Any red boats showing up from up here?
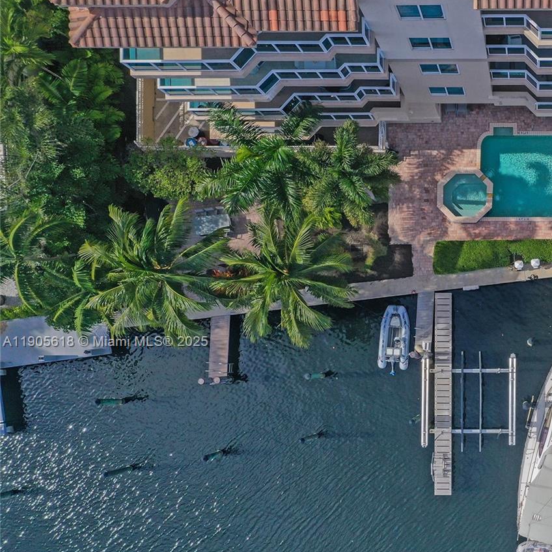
No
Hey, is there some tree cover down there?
Yes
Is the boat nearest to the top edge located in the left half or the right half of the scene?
right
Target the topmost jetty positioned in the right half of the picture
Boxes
[413,291,435,349]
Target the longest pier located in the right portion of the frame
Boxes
[434,293,452,495]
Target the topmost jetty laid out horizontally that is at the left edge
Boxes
[0,328,121,368]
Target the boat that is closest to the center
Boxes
[378,304,410,374]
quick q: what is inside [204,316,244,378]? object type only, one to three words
pier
